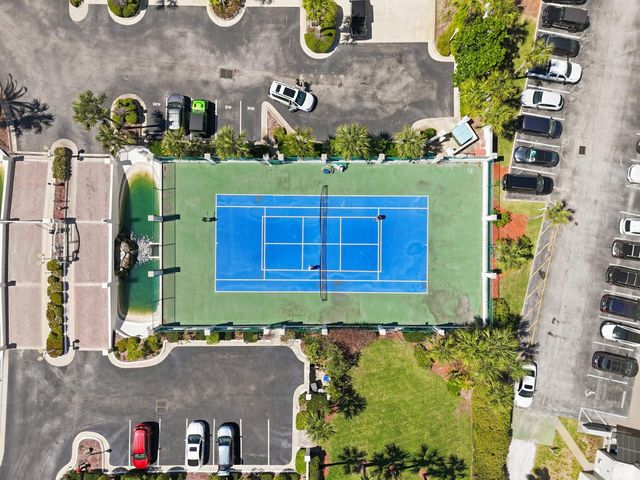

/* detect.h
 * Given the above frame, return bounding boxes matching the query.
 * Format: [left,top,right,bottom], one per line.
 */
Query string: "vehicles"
[600,322,640,343]
[526,60,581,84]
[591,352,638,378]
[599,295,640,318]
[184,422,206,469]
[604,264,640,286]
[512,362,538,407]
[618,217,640,235]
[349,0,367,39]
[504,173,552,195]
[129,423,153,468]
[543,6,586,31]
[611,239,640,260]
[513,145,560,168]
[216,426,236,473]
[534,32,581,58]
[163,95,186,139]
[519,87,566,111]
[516,116,563,138]
[269,81,315,116]
[189,100,211,138]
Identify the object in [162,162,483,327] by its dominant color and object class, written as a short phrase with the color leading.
green tennis court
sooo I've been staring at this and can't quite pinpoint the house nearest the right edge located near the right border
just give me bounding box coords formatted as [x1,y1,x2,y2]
[566,420,640,480]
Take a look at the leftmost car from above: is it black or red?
red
